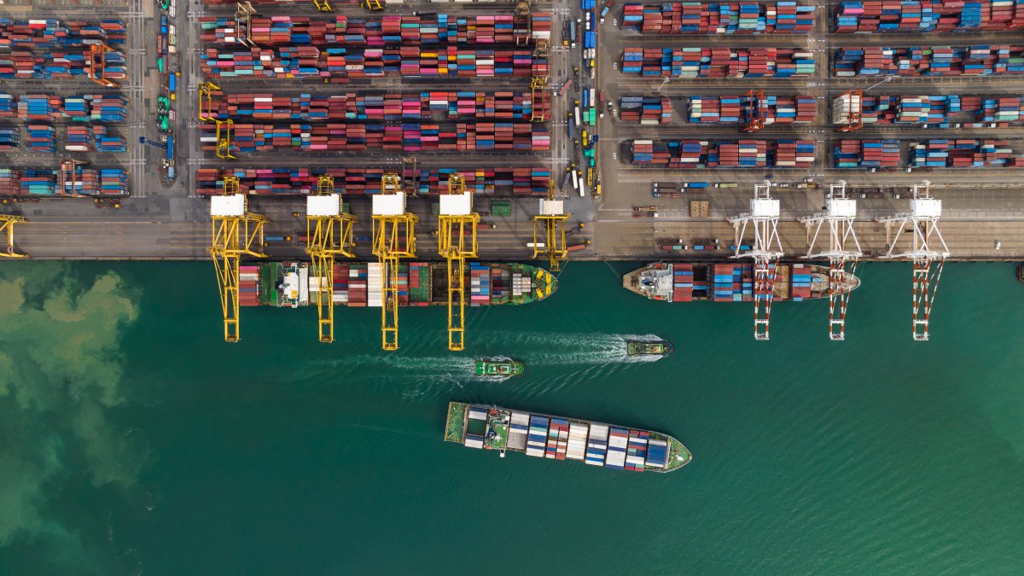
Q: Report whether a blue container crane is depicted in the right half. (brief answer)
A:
No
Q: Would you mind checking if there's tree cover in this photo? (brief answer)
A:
No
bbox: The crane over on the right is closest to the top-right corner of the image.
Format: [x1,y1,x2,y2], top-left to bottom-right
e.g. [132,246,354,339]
[836,86,865,132]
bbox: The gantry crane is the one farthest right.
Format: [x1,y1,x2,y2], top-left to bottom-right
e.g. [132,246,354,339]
[869,177,952,342]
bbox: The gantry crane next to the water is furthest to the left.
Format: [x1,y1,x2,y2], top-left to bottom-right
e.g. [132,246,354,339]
[0,209,34,257]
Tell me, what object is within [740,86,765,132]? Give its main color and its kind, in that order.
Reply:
red container crane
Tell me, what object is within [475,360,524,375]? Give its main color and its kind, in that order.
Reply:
green boat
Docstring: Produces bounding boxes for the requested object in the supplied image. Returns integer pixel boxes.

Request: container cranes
[60,158,92,201]
[303,174,362,341]
[371,174,422,351]
[214,119,241,161]
[235,1,261,47]
[196,78,223,123]
[437,174,483,351]
[203,173,275,341]
[791,177,863,342]
[869,177,952,342]
[740,86,765,132]
[528,77,546,124]
[532,38,551,83]
[523,179,571,280]
[400,153,421,199]
[836,86,865,132]
[514,0,532,47]
[721,177,785,342]
[0,209,34,257]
